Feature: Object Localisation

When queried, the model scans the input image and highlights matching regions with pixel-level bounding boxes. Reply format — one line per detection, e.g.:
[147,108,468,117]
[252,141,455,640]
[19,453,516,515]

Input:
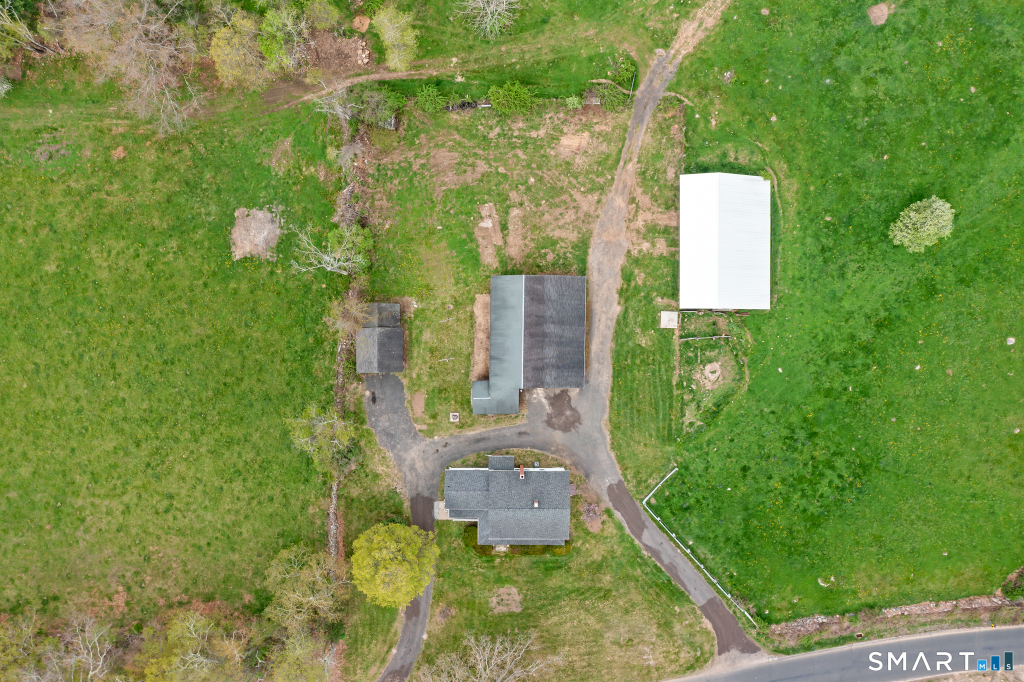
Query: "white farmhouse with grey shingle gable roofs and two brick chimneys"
[444,454,577,554]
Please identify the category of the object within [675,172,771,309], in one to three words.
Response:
barn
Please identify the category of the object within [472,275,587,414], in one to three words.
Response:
barn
